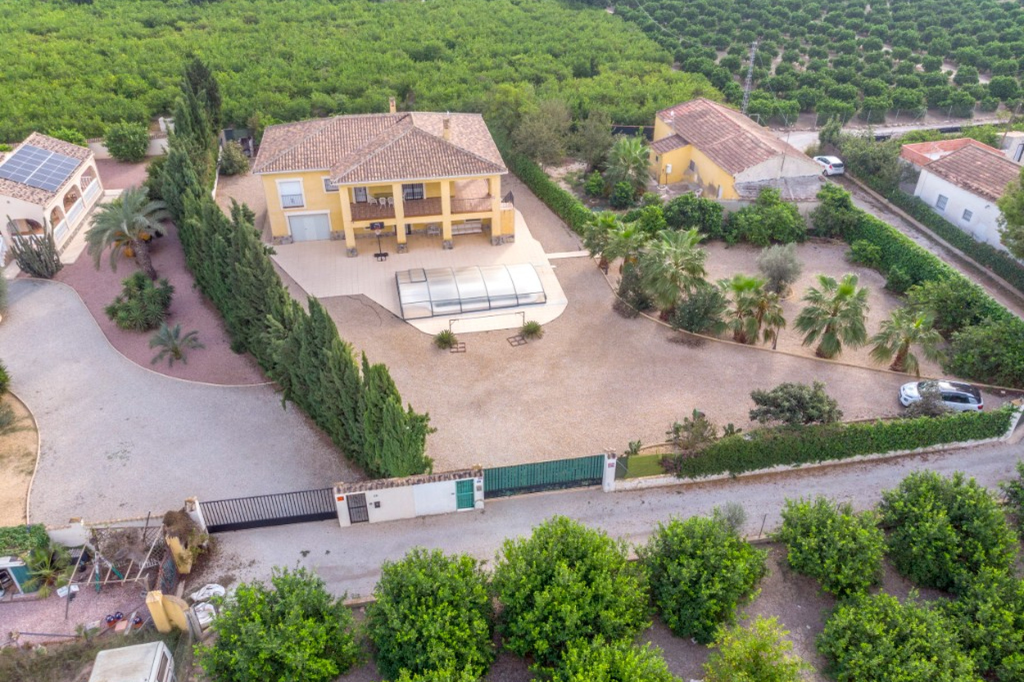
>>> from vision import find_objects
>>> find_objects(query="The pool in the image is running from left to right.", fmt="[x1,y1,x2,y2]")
[426,297,537,311]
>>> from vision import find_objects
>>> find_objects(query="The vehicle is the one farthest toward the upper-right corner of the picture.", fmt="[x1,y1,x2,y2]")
[814,155,849,175]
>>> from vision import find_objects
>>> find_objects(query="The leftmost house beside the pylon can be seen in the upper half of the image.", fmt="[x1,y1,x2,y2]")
[657,95,819,193]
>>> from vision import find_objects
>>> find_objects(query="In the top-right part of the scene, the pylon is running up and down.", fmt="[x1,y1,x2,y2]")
[739,39,760,118]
